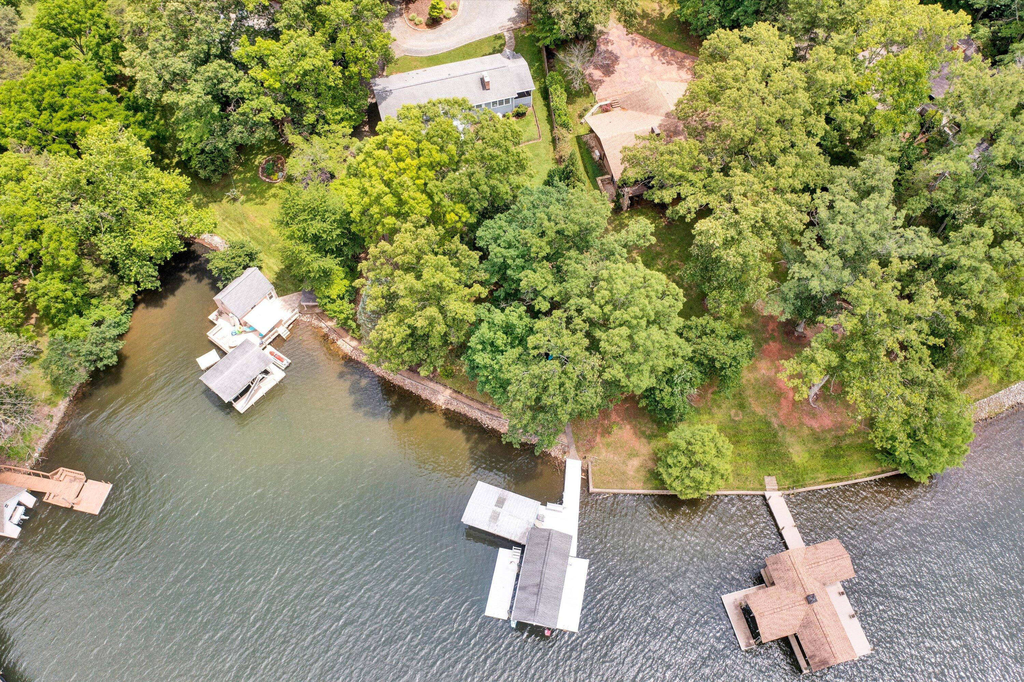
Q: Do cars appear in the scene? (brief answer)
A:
No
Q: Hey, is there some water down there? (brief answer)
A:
Yes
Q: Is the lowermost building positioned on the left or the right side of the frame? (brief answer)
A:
right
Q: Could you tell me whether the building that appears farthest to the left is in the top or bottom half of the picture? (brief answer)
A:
bottom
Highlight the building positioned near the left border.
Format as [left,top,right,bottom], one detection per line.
[0,485,40,541]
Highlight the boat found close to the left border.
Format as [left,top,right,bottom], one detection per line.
[8,505,33,527]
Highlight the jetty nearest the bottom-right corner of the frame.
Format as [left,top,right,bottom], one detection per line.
[485,458,589,633]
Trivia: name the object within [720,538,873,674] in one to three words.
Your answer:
building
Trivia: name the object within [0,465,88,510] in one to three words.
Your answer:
pier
